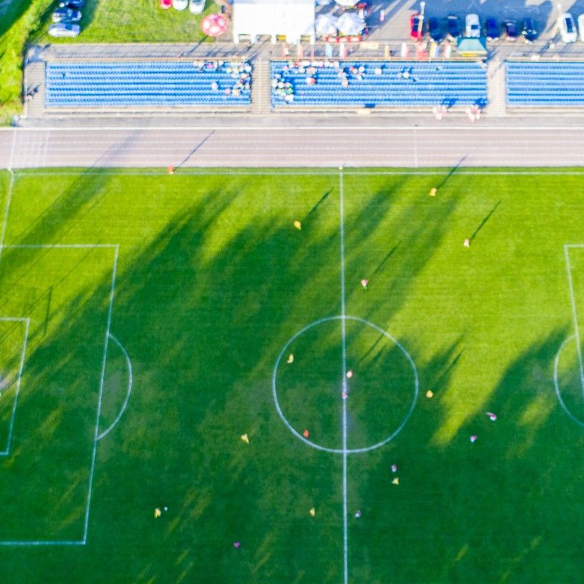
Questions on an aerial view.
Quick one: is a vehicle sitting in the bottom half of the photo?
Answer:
No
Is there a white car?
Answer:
Yes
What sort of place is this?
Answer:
sports ground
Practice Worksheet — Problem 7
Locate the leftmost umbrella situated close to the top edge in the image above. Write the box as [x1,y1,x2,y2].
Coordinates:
[203,16,226,38]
